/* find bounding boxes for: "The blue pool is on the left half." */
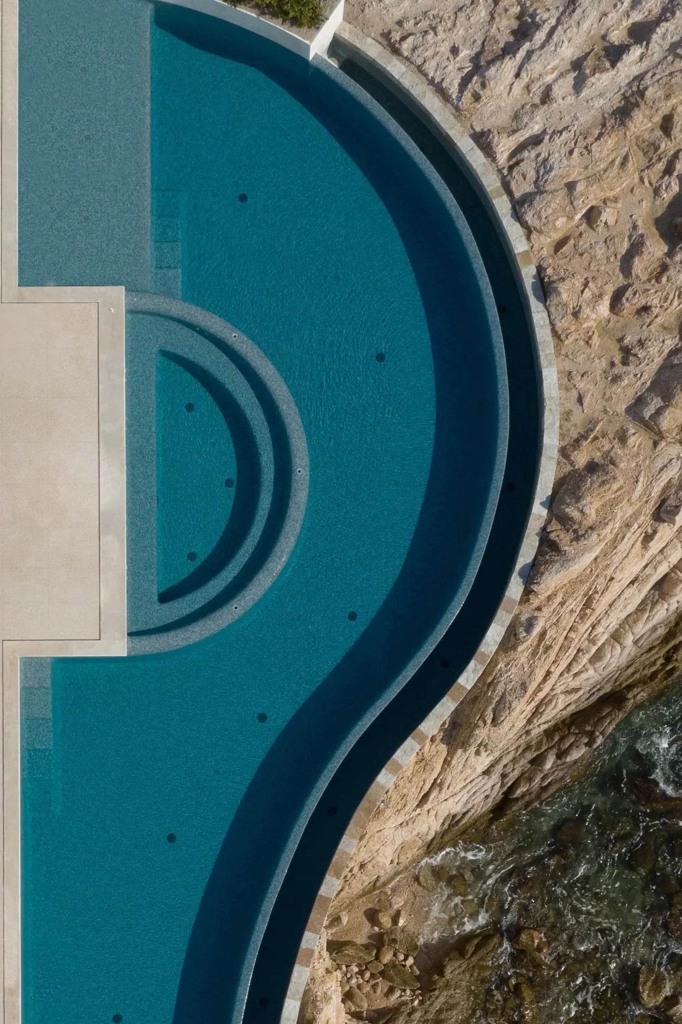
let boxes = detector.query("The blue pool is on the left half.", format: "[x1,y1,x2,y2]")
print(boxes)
[2,0,509,1024]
